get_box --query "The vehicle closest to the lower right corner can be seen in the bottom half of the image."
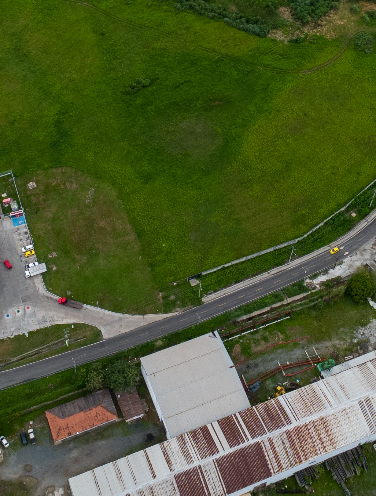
[273,376,288,397]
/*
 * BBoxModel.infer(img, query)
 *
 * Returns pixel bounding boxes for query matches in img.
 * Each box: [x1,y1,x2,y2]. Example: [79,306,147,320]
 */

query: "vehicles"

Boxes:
[58,293,82,310]
[273,376,288,397]
[25,261,47,274]
[20,244,33,253]
[24,250,35,256]
[0,434,11,450]
[20,430,27,446]
[24,260,37,271]
[4,259,12,271]
[329,247,340,254]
